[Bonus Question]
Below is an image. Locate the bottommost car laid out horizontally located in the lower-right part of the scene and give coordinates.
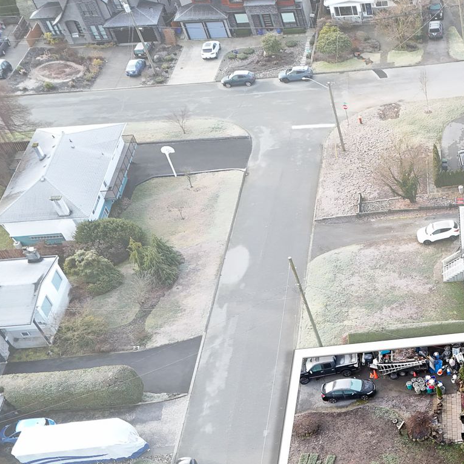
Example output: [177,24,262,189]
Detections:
[321,377,374,406]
